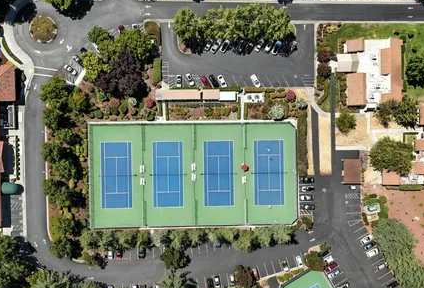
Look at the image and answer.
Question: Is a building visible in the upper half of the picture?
Yes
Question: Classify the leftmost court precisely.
tennis court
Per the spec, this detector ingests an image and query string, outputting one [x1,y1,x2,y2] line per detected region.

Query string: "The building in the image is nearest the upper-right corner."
[335,36,403,111]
